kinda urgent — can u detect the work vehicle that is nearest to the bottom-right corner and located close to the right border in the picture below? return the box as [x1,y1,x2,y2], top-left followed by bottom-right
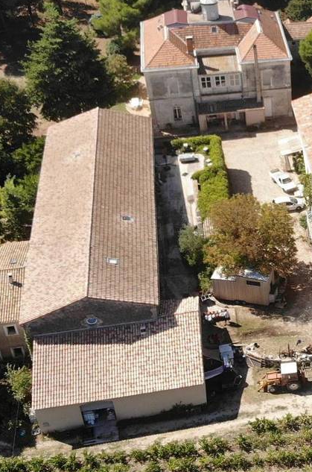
[256,362,307,393]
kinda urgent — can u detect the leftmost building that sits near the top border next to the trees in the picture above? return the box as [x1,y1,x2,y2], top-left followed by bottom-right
[140,0,296,133]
